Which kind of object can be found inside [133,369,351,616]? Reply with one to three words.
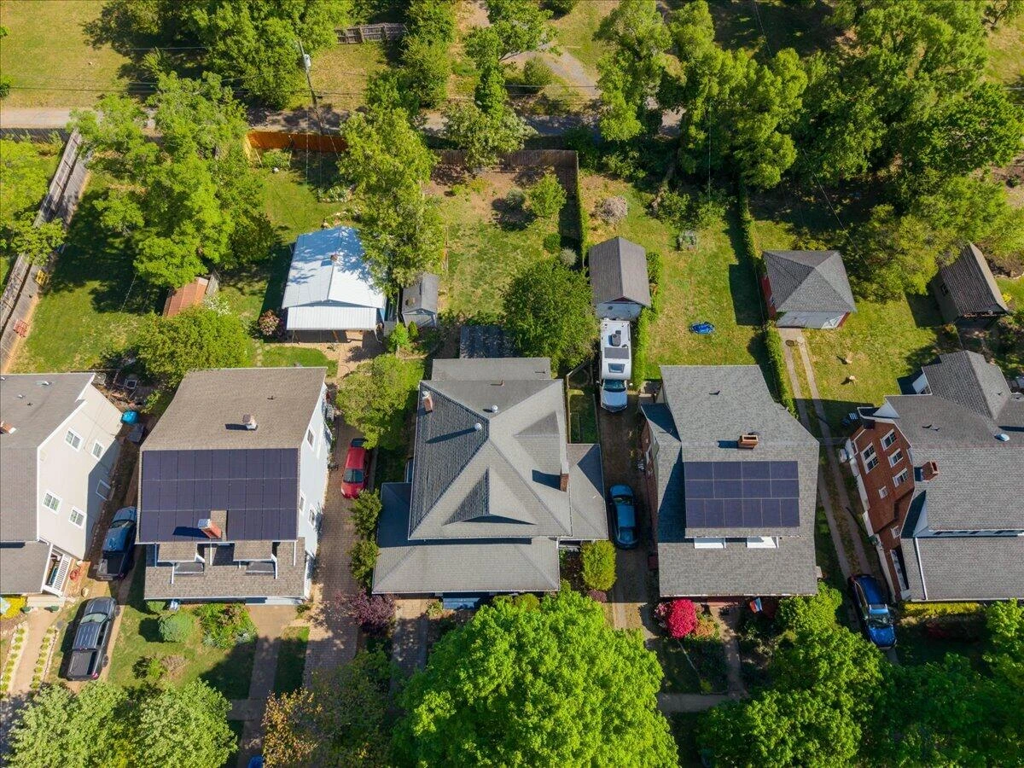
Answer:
house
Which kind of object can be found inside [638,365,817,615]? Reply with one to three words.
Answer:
house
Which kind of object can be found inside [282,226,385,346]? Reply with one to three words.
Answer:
building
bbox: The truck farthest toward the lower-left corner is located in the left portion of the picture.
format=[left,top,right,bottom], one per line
[59,593,126,693]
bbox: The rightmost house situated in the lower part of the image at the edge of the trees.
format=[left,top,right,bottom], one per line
[842,350,1024,607]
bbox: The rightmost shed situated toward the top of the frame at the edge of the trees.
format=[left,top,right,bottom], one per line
[923,247,1012,332]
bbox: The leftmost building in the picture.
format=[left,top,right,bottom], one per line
[0,374,122,628]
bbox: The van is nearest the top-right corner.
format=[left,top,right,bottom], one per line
[594,321,631,412]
